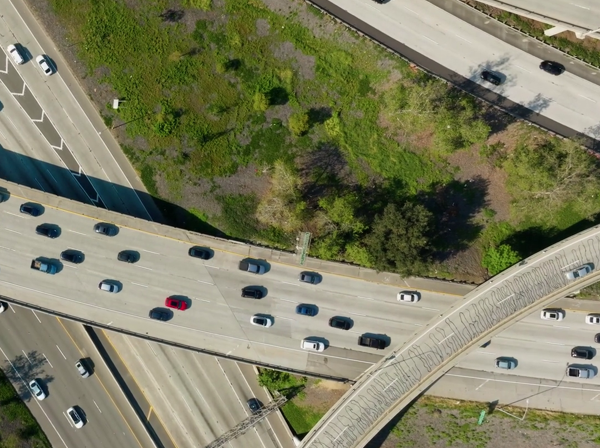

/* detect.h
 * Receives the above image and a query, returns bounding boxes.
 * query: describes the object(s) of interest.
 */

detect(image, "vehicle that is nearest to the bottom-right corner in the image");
[567,366,595,378]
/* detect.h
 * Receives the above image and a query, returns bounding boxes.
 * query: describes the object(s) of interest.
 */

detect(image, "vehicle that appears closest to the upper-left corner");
[6,43,24,66]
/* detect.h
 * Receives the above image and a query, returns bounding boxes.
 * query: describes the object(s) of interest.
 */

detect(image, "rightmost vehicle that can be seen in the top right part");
[539,59,562,75]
